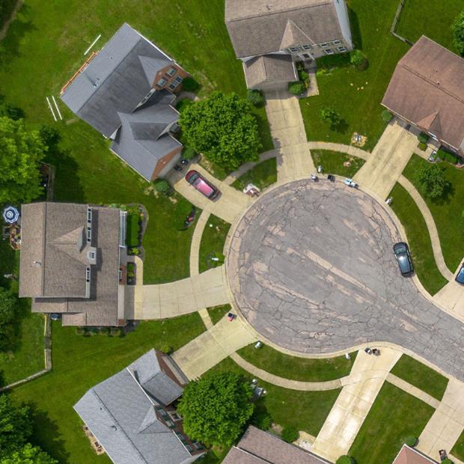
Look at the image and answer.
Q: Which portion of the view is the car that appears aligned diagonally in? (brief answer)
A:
center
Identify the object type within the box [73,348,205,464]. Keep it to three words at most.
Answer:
house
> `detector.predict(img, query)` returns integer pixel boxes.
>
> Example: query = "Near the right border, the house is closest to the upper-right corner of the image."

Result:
[381,35,464,154]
